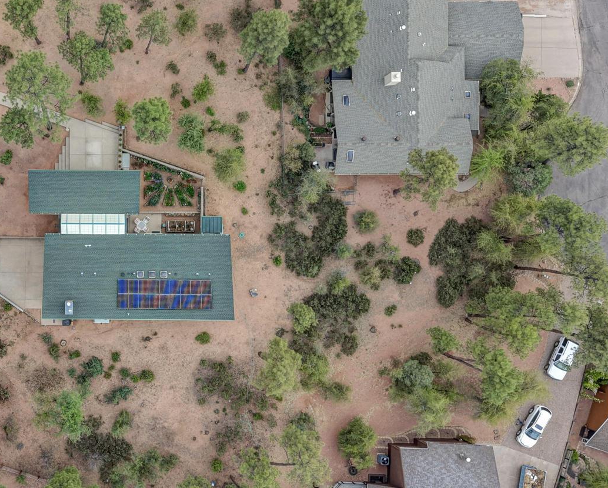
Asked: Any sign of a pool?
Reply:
No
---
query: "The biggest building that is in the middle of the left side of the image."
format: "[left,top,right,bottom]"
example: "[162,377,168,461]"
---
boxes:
[28,169,235,321]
